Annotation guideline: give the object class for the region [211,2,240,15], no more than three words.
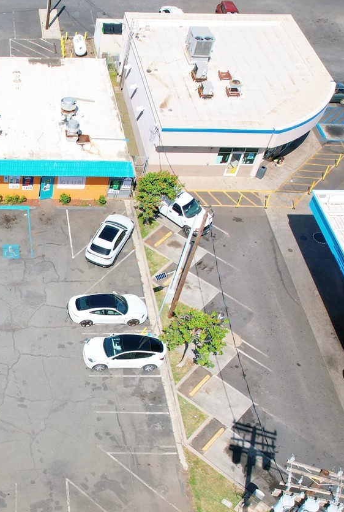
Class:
vehicle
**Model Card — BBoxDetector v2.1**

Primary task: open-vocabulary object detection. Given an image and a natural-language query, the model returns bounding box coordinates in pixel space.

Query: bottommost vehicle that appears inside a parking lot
[81,331,169,371]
